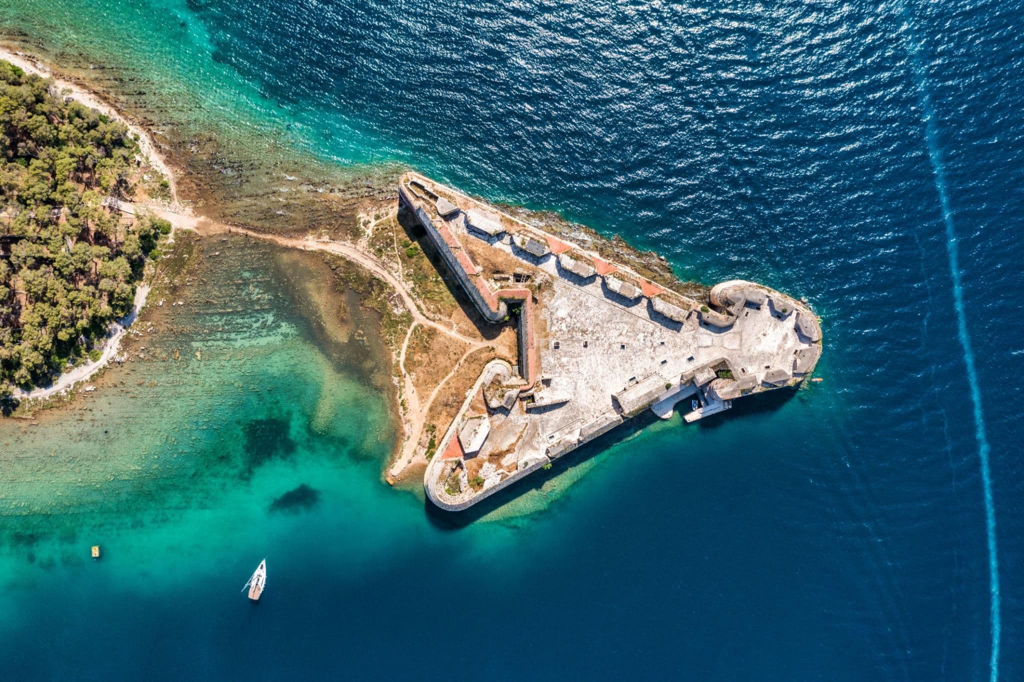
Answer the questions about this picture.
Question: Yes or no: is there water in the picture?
Yes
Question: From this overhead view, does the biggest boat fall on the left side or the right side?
left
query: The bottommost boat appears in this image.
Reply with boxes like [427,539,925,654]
[244,558,267,601]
